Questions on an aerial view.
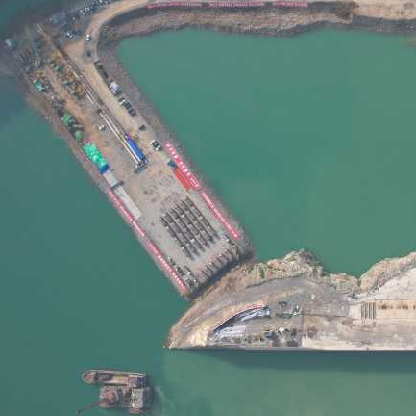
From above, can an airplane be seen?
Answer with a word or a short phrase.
No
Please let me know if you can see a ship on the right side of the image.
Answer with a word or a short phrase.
No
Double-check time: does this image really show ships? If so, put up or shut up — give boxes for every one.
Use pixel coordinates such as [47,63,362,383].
[79,387,152,412]
[80,371,147,392]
